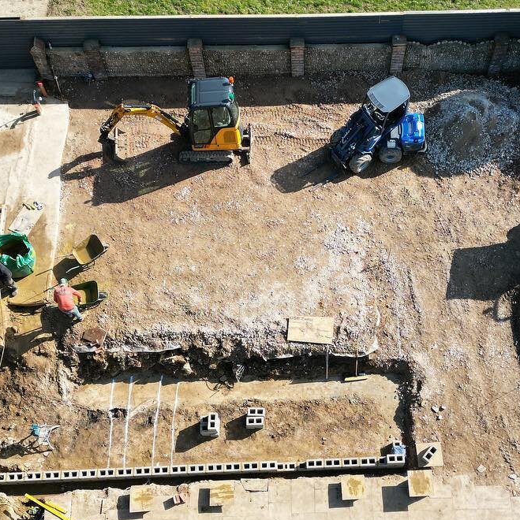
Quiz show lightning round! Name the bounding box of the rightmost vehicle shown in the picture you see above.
[297,70,430,198]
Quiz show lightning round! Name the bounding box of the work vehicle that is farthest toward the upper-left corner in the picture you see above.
[105,73,259,164]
